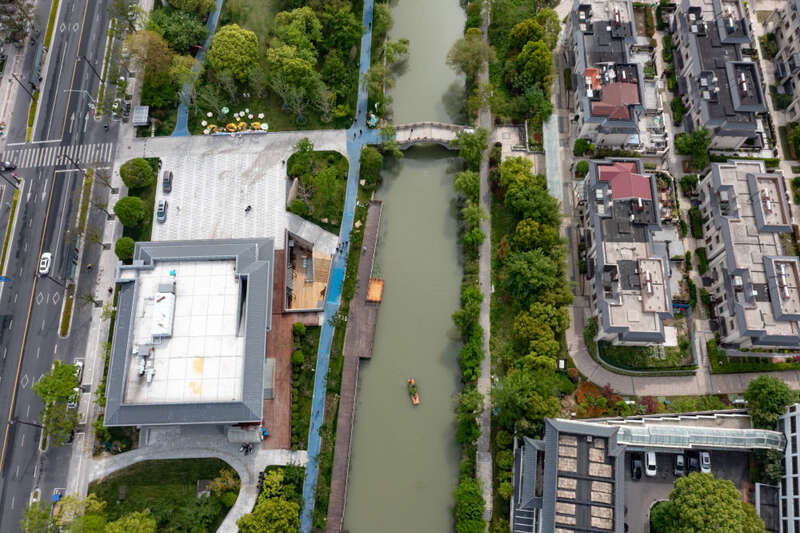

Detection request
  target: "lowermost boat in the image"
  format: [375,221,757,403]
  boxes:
[409,375,422,406]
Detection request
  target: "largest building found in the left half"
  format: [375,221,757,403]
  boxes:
[103,238,274,427]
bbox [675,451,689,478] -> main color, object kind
gray car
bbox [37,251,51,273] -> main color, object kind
white car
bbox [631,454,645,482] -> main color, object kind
black vehicle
